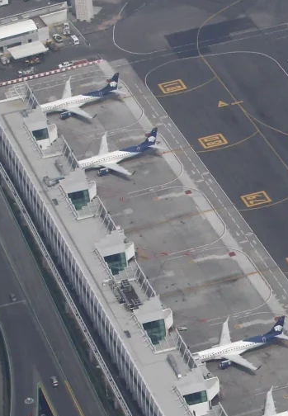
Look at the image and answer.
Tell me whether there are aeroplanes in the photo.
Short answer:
Yes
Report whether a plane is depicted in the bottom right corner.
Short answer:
Yes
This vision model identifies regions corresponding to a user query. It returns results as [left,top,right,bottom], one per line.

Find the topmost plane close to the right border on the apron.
[190,313,288,369]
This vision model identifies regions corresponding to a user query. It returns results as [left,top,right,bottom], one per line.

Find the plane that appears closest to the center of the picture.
[71,128,166,177]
